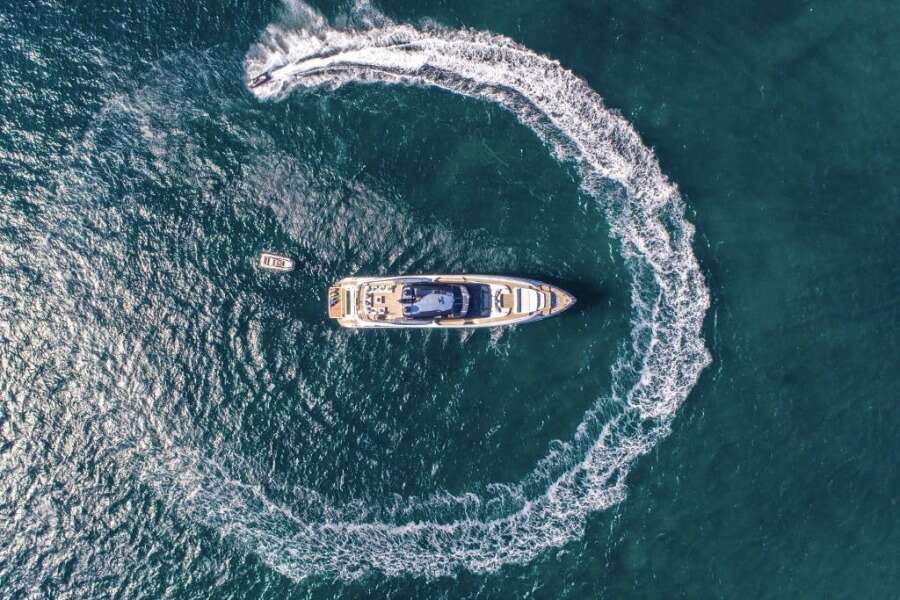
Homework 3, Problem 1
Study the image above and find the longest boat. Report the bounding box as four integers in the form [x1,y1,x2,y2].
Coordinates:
[329,275,577,328]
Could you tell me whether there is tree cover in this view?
No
